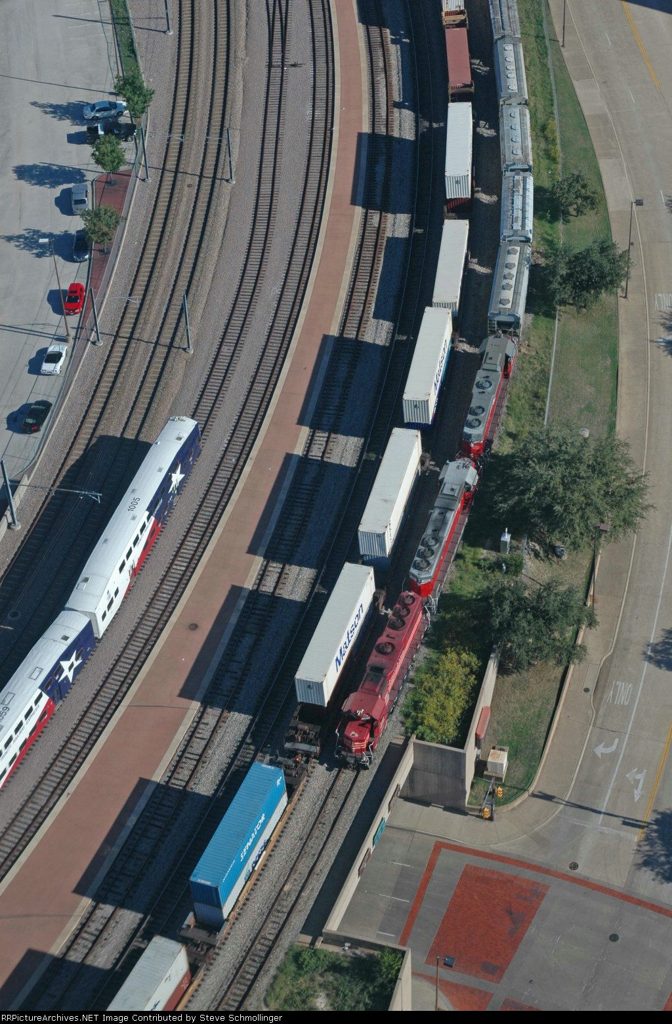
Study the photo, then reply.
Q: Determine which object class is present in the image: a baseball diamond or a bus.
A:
bus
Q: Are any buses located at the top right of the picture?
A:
No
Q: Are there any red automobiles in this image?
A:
Yes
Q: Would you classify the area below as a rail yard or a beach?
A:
rail yard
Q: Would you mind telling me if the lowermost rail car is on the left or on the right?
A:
left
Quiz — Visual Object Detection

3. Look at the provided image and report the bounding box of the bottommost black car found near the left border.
[19,399,51,433]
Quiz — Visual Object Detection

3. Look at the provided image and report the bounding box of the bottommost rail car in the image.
[166,946,208,1024]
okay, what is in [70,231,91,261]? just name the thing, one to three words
car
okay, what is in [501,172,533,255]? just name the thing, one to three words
rail car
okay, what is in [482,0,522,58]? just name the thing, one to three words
rail car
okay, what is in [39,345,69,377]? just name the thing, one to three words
car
